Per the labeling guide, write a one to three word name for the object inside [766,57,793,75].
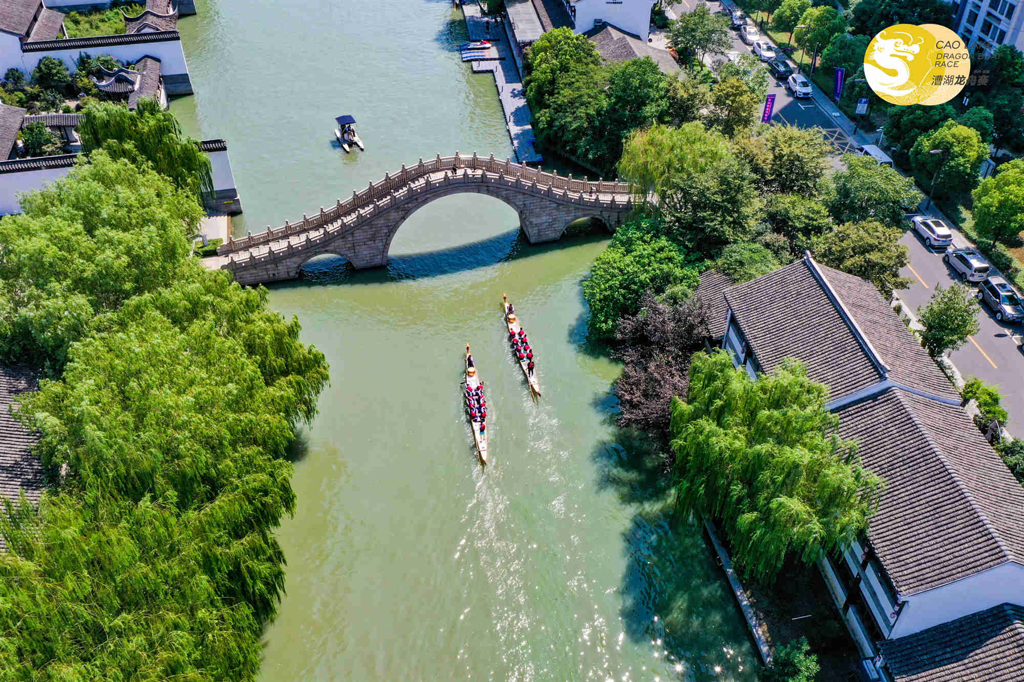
car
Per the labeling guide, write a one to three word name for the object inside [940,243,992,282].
car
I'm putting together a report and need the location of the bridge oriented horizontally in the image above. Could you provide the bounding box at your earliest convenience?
[213,147,644,285]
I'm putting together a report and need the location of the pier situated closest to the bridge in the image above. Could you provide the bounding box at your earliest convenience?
[458,0,541,164]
